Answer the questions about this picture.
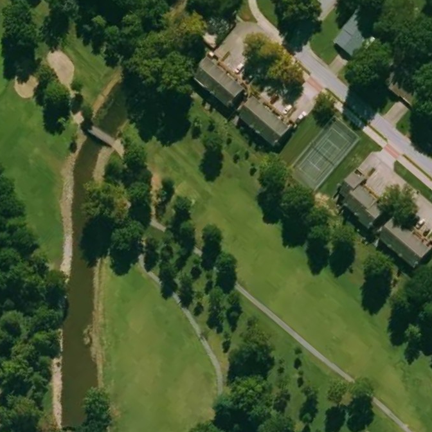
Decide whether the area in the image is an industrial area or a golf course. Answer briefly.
golf course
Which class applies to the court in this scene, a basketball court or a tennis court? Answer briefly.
tennis court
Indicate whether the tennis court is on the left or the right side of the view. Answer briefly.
right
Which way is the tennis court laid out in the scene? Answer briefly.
on a diagonal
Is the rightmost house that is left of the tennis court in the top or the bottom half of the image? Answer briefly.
top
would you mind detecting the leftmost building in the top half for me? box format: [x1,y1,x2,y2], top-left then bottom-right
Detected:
[198,56,246,107]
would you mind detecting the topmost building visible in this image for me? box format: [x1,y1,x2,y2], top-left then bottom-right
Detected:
[331,13,371,55]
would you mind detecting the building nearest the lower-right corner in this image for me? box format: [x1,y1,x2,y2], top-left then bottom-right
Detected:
[377,220,432,269]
